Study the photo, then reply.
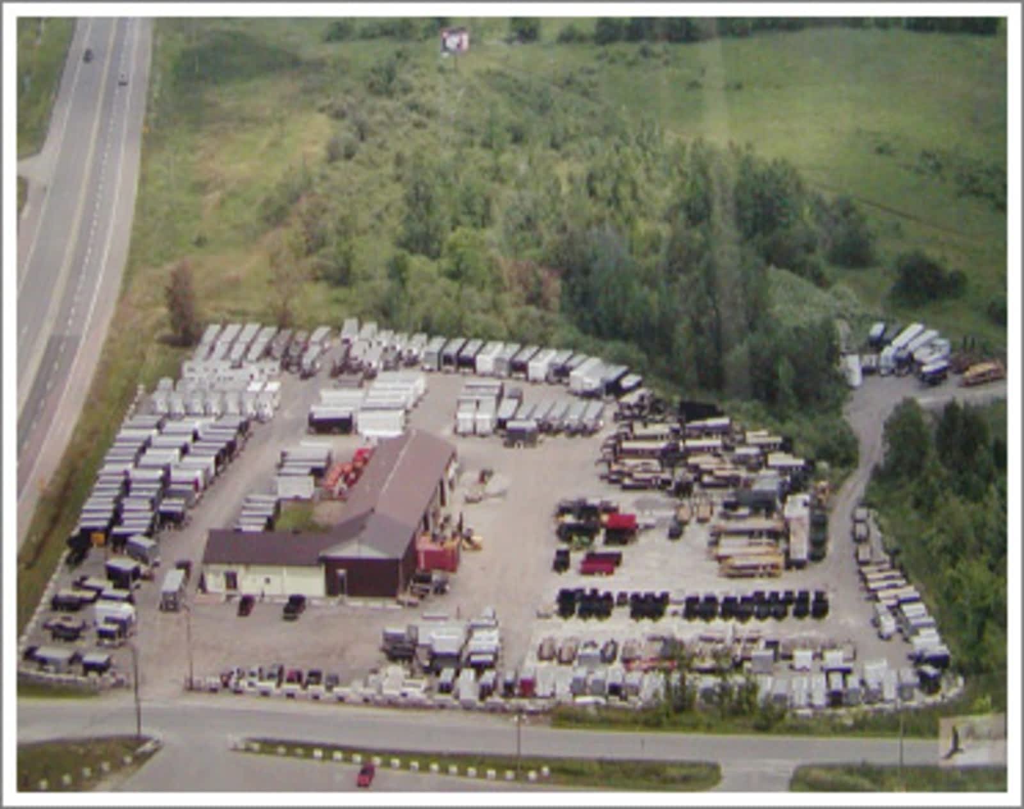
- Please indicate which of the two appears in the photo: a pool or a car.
car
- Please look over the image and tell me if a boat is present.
No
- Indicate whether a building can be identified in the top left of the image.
No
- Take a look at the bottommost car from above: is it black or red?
red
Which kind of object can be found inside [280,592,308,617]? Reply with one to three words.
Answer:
truck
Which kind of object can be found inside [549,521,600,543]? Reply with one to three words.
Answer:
trailer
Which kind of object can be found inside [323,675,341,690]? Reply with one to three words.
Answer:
vehicle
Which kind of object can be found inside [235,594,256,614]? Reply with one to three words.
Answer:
car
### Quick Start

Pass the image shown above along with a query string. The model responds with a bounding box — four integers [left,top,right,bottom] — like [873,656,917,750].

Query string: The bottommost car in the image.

[353,760,379,786]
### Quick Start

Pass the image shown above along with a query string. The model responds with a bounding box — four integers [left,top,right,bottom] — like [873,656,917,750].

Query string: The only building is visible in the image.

[204,432,455,592]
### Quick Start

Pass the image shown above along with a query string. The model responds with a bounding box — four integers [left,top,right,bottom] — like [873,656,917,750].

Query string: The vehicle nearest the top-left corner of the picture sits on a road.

[82,47,94,59]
